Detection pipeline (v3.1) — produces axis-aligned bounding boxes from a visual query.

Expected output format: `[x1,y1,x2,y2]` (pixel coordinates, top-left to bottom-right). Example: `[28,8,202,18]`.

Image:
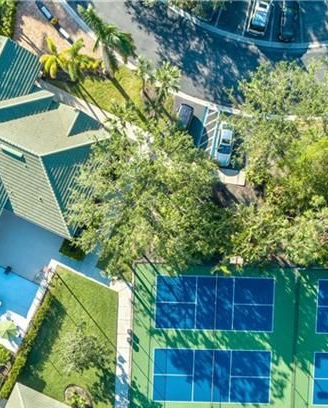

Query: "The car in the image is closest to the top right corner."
[277,0,299,44]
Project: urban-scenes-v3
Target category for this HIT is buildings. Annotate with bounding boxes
[5,381,73,408]
[0,34,111,239]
